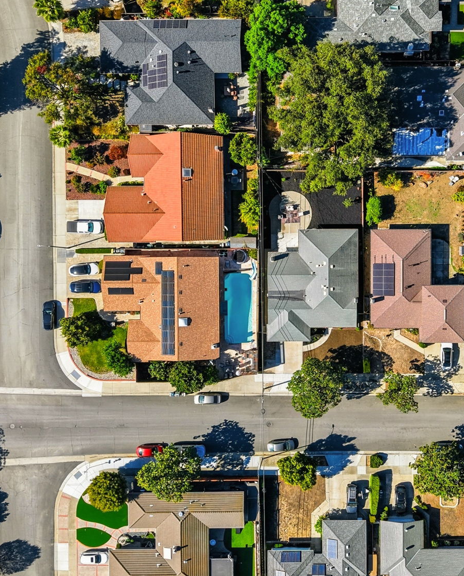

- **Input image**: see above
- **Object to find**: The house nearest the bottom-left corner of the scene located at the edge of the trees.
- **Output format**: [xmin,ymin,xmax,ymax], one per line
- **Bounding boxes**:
[109,490,244,576]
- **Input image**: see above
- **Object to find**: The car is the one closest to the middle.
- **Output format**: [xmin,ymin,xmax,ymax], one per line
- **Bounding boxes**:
[194,392,221,406]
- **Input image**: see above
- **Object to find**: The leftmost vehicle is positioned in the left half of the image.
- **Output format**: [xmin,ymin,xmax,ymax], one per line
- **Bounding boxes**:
[41,300,57,330]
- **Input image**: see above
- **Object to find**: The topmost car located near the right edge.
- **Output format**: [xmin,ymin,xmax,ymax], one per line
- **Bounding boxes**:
[440,343,454,370]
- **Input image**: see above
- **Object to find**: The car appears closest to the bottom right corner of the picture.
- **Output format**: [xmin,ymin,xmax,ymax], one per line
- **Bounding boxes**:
[394,482,407,512]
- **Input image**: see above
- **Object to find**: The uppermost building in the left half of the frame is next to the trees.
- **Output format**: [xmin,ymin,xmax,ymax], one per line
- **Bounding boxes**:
[99,20,241,126]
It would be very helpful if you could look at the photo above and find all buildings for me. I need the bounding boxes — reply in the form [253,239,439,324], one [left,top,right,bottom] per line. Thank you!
[380,517,464,576]
[267,229,358,342]
[392,67,464,161]
[109,490,244,576]
[230,237,255,247]
[370,229,464,343]
[268,517,367,576]
[315,0,453,55]
[100,256,219,363]
[103,133,225,242]
[99,20,241,126]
